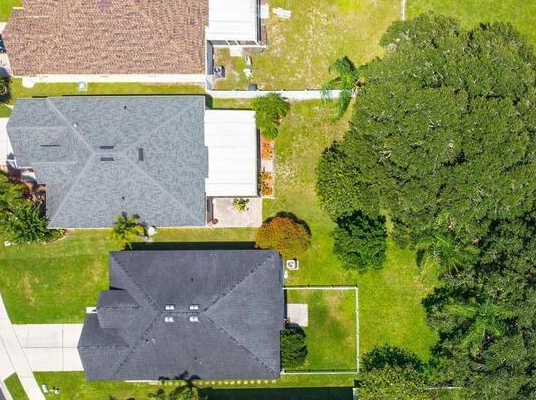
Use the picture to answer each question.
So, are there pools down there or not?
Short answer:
No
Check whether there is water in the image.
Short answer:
No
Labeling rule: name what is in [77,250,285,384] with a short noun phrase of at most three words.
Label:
house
